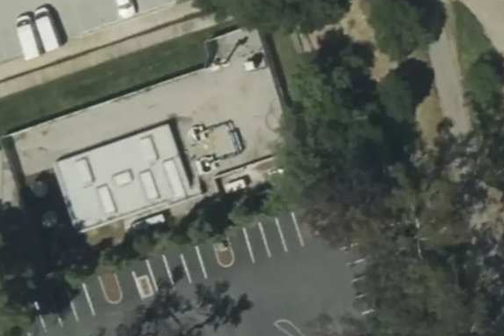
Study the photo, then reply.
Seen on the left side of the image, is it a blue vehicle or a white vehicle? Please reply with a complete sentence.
What appears on the left side of the image is a white vehicle.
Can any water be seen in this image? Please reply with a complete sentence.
No, the scene doesn't show any water.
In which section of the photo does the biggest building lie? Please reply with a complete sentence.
Look in the left portion of the view to spot the biggest building.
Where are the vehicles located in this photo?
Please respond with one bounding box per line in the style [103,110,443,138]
[118,0,137,16]
[19,13,43,59]
[39,6,64,54]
